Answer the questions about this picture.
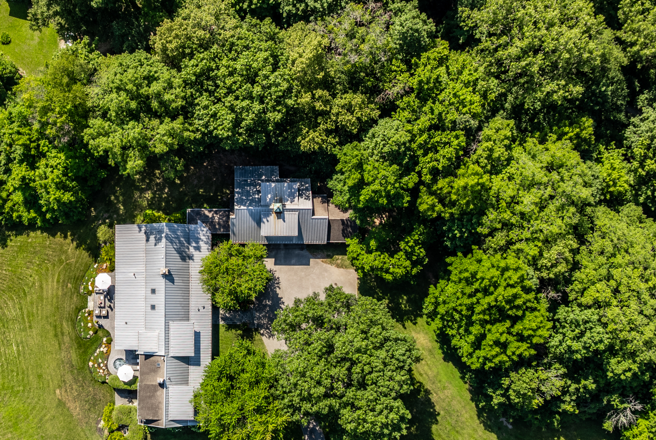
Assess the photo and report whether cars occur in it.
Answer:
No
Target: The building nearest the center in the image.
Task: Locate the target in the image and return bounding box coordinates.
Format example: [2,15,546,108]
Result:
[230,165,360,244]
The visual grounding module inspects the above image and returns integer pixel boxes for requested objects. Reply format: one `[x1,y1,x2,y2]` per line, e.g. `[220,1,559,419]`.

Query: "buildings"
[114,222,213,428]
[230,165,360,244]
